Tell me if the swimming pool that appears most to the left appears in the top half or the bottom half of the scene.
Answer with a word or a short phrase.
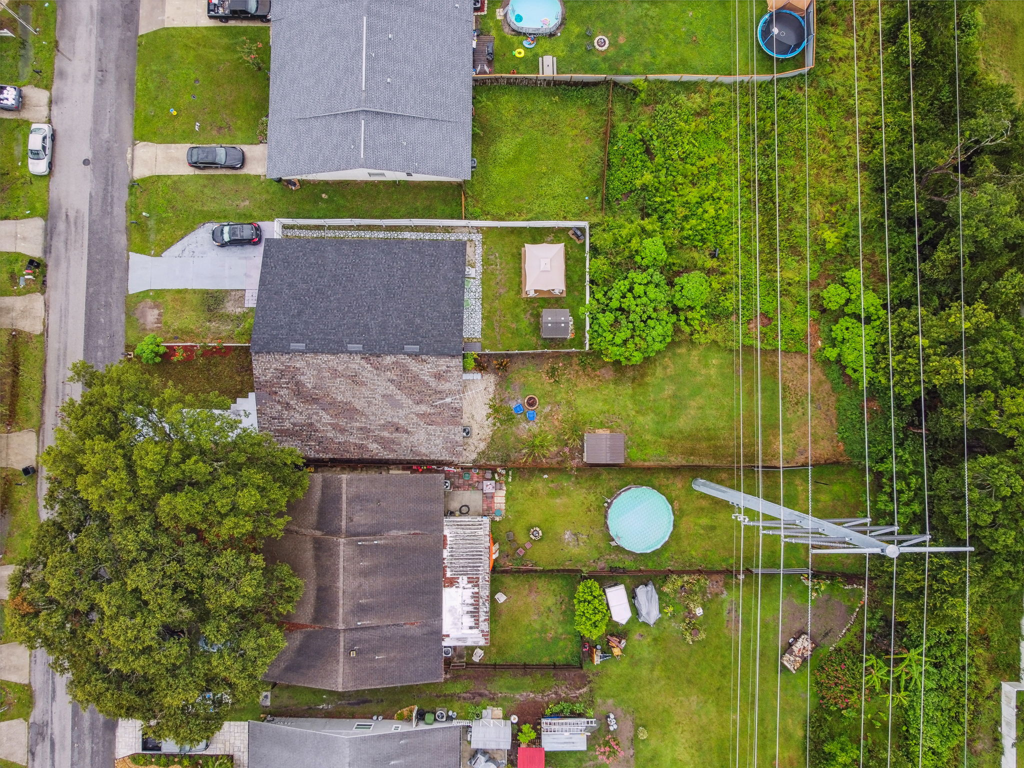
top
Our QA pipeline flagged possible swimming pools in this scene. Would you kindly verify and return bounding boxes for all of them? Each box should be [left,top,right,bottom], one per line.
[600,482,674,553]
[506,0,564,39]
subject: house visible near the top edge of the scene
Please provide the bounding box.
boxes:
[266,0,474,182]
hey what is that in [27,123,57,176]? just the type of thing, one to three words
car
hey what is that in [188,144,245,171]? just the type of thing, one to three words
car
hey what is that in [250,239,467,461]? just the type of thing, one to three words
house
